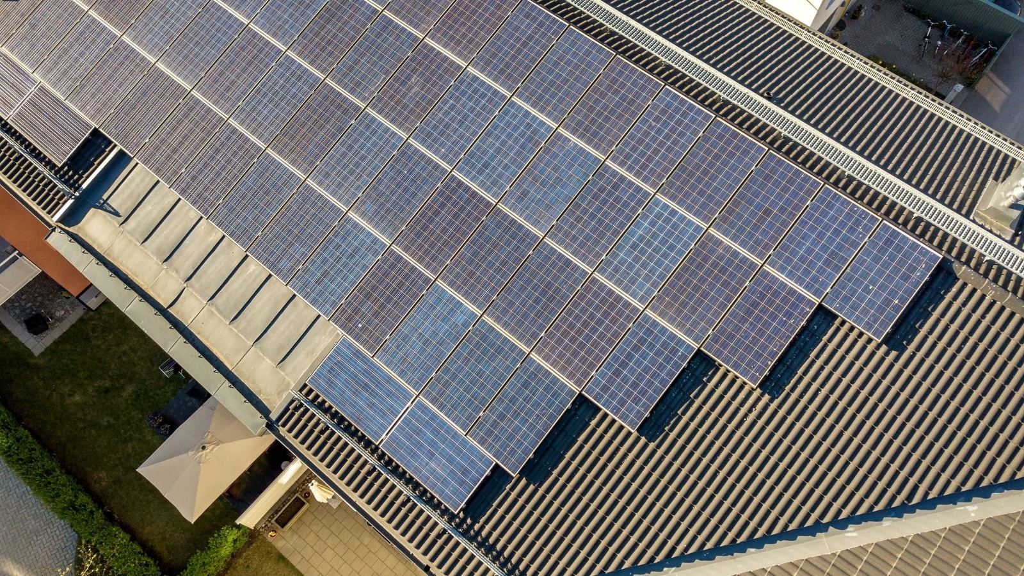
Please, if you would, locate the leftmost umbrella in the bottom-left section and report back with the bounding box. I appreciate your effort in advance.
[138,399,275,523]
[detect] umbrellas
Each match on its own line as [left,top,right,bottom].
[138,399,275,523]
[310,483,344,509]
